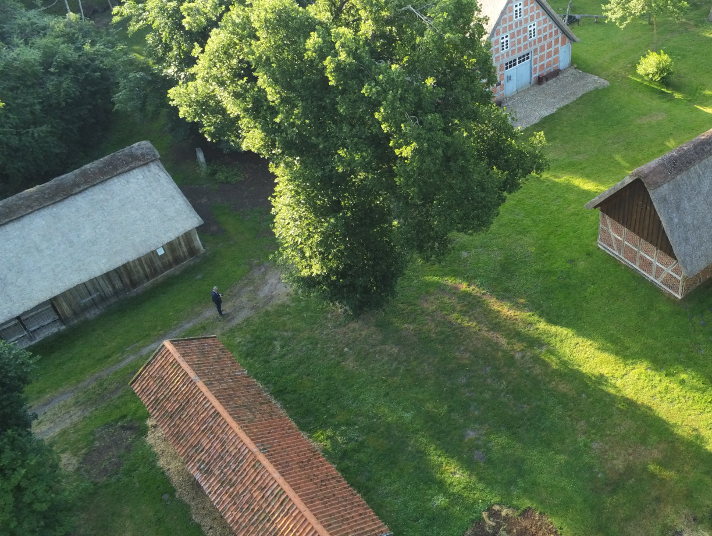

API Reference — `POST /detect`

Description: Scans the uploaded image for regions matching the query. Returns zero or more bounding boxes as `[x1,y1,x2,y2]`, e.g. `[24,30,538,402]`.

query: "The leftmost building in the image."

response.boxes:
[0,137,208,353]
